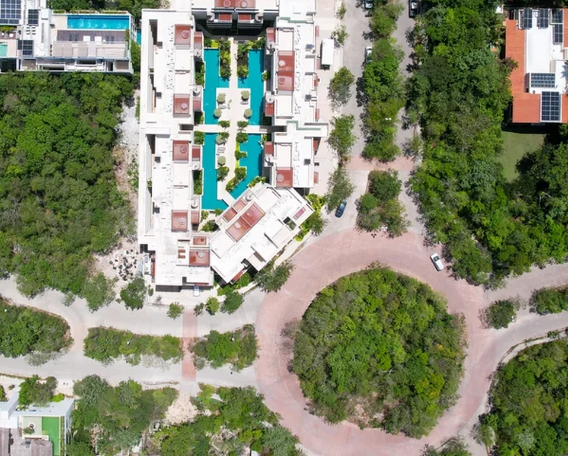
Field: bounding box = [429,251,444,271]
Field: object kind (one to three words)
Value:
car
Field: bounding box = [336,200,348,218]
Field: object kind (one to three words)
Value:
vehicle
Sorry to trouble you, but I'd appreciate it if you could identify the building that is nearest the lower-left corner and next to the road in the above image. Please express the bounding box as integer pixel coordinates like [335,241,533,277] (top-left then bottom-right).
[0,385,73,456]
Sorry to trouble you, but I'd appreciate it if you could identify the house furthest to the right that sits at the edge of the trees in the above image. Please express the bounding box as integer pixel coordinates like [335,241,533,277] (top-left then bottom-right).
[498,9,568,122]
